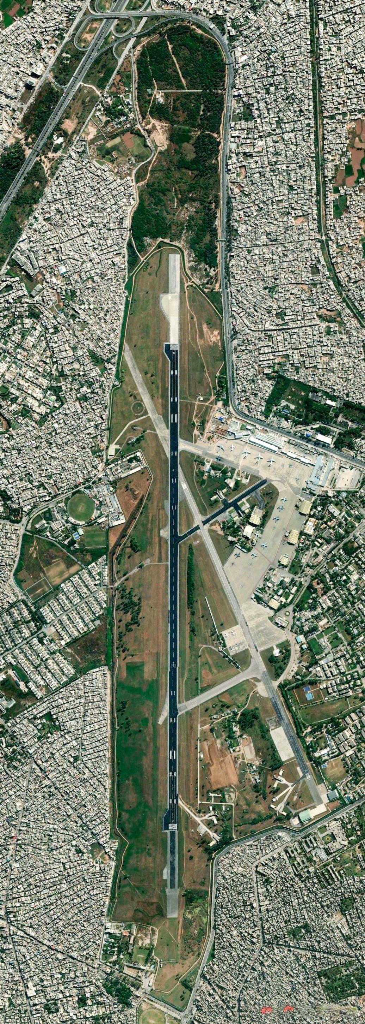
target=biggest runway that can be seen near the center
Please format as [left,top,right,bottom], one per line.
[163,344,178,830]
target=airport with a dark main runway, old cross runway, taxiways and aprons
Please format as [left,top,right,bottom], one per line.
[108,254,330,917]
